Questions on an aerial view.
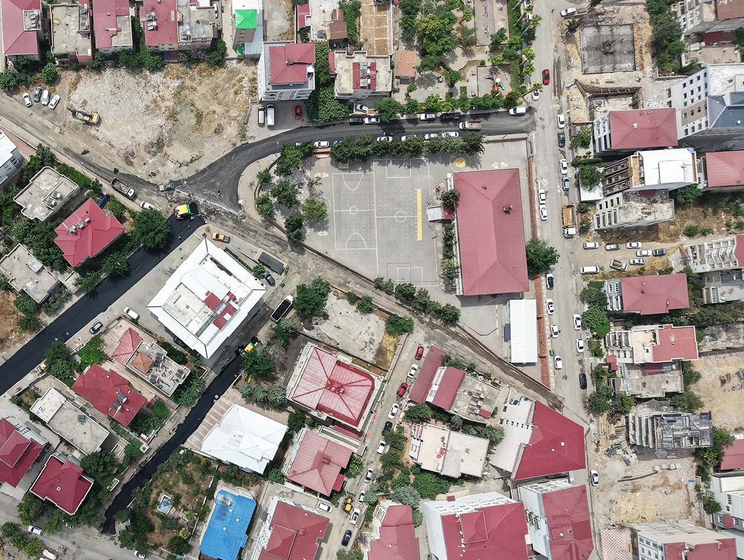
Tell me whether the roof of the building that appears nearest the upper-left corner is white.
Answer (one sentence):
No, the roof of the building that appears nearest the upper-left corner is pink.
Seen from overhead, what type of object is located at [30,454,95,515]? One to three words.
house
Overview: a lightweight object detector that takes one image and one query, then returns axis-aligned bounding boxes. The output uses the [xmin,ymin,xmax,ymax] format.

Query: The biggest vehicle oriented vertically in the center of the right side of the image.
[563,204,576,238]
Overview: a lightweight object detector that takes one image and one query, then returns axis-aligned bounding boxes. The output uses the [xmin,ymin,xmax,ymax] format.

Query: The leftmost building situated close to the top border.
[1,0,45,64]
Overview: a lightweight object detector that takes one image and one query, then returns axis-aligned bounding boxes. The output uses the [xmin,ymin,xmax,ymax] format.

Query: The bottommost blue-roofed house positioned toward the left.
[200,480,258,560]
